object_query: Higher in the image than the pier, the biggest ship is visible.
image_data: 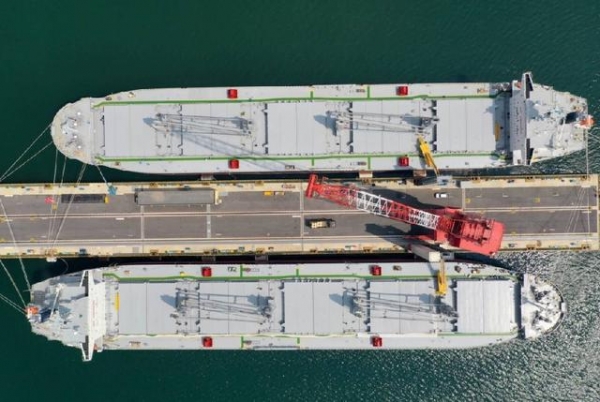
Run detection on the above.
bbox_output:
[49,74,593,175]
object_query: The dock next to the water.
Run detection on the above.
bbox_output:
[0,173,599,260]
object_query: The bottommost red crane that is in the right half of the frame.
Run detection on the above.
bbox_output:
[304,172,508,252]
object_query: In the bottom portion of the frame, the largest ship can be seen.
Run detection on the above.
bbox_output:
[23,258,567,359]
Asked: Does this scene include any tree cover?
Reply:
No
